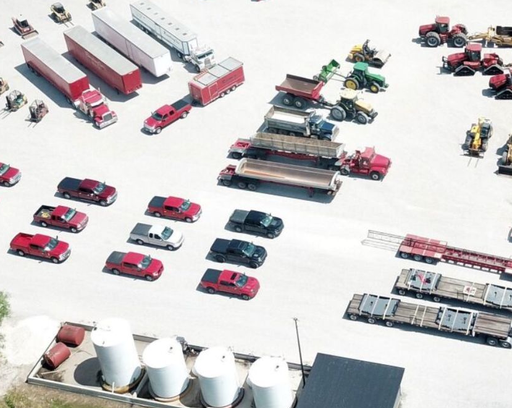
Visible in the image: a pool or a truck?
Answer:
truck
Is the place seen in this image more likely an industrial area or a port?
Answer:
industrial area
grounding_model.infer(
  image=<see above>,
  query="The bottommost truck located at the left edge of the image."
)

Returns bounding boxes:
[12,232,72,262]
